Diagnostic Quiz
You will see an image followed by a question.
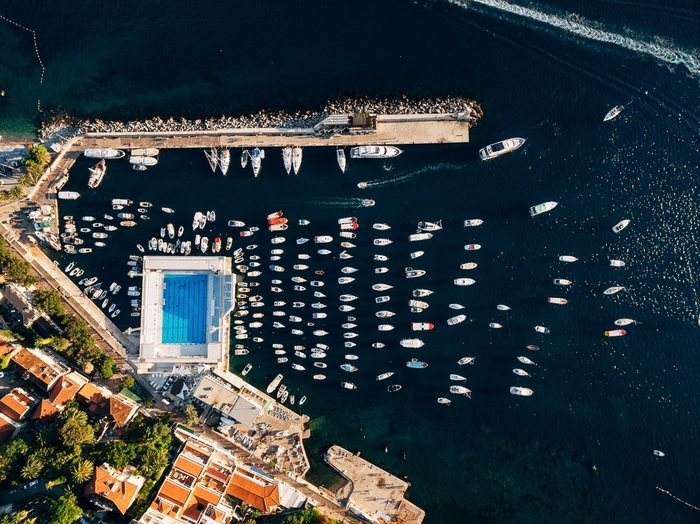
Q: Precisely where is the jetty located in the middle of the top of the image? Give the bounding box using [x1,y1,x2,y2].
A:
[83,113,470,150]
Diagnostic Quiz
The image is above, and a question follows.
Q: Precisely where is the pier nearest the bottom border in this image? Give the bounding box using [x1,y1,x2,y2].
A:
[327,445,427,524]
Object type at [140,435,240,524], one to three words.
building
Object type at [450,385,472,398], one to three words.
boat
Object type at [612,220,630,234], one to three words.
boat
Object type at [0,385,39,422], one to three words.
house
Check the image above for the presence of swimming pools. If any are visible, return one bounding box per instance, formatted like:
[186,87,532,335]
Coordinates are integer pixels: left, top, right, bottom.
[141,256,237,372]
